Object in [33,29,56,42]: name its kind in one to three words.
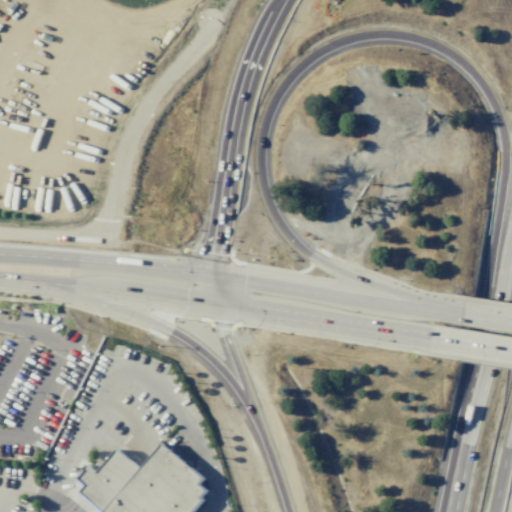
vehicle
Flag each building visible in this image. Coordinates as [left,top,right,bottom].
[77,444,208,512]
